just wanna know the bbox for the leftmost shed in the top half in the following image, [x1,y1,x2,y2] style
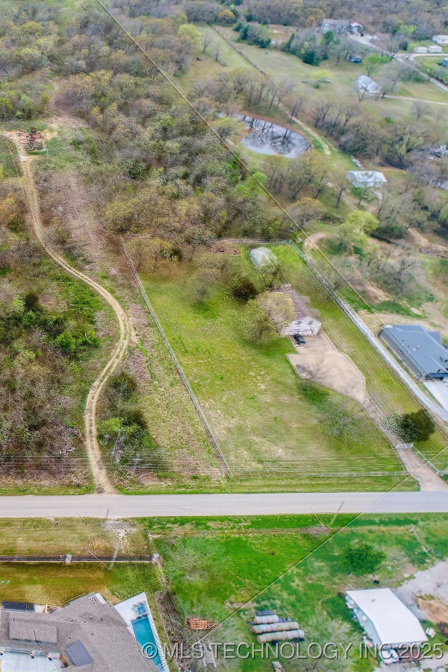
[250,244,278,267]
